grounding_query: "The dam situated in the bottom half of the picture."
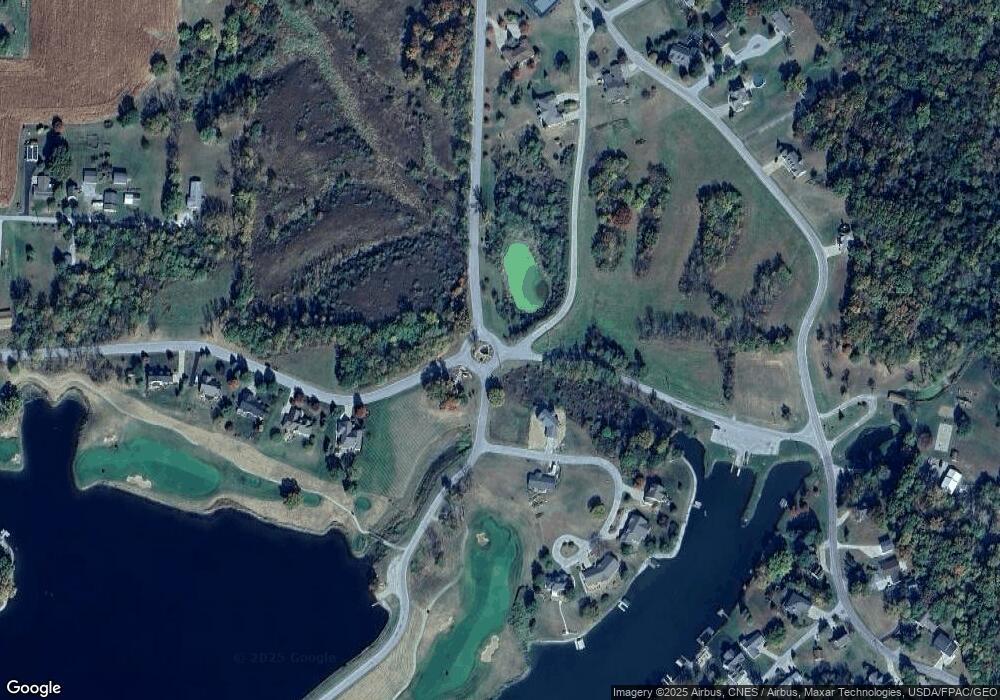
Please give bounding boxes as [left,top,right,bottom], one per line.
[305,598,424,700]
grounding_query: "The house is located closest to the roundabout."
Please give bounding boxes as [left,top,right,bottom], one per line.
[536,407,559,438]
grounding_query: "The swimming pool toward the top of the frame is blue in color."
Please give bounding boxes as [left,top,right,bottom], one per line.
[752,73,767,88]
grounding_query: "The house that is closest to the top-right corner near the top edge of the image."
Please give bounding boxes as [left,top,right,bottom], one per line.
[771,8,795,33]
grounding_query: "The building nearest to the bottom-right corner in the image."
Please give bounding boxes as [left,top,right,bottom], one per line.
[931,627,961,658]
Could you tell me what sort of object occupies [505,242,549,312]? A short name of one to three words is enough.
pond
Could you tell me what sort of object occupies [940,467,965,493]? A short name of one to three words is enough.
building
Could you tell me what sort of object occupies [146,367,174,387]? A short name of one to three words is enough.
house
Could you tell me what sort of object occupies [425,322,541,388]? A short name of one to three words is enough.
roundabout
